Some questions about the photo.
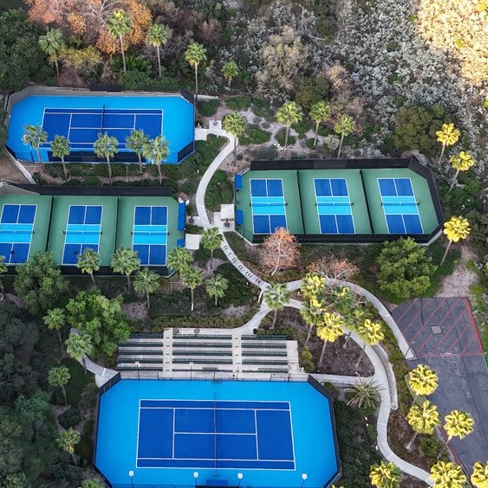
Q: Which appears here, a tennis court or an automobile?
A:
tennis court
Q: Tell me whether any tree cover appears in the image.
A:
Yes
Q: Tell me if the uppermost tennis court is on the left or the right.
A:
left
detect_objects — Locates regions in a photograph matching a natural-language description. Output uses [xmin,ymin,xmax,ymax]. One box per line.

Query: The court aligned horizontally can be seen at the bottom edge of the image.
[94,380,339,488]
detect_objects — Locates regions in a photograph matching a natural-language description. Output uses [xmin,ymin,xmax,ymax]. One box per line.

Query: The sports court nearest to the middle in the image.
[236,170,305,242]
